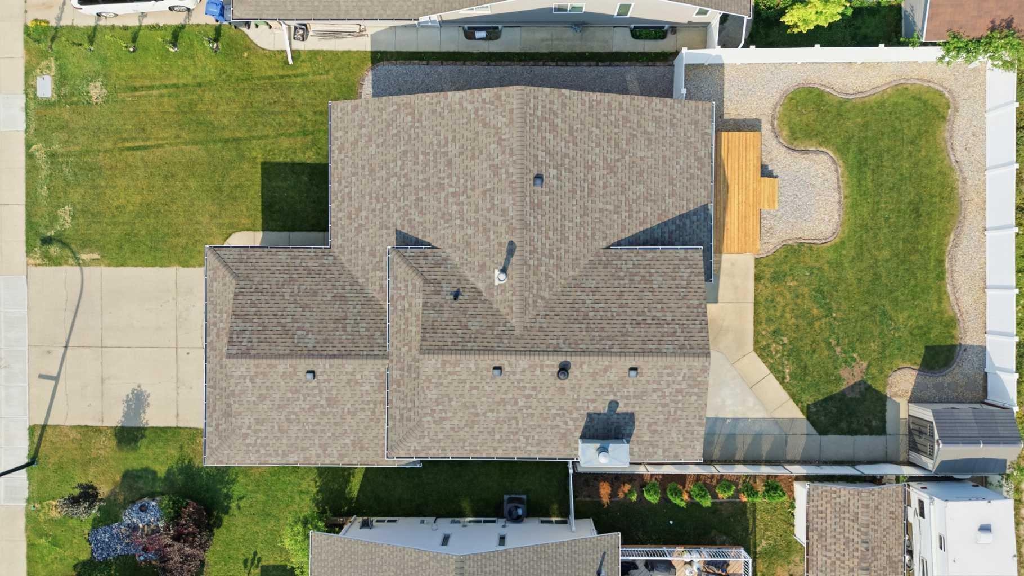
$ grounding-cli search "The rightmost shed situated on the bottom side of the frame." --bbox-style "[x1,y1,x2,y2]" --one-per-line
[909,404,1023,472]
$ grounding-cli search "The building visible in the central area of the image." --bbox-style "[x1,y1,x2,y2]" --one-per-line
[205,83,713,467]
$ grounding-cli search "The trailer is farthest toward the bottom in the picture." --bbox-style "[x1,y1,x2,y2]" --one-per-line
[905,479,1017,576]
